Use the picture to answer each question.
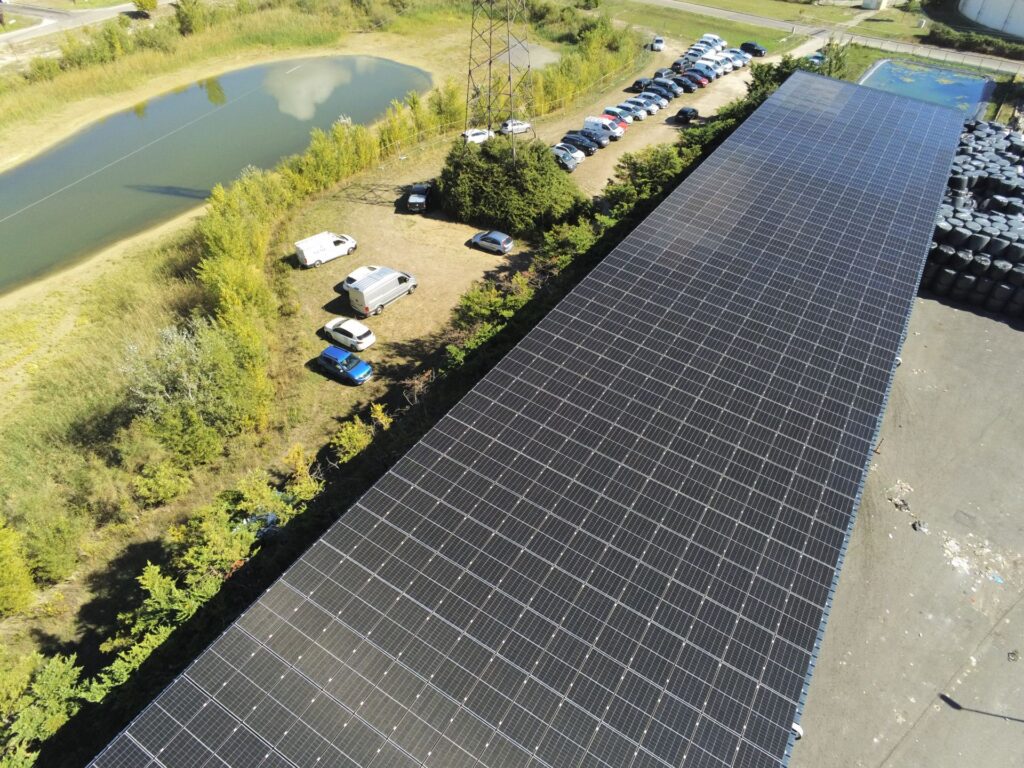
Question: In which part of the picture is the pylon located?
top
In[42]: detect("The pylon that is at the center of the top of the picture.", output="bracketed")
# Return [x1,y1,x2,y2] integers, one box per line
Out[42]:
[465,0,535,235]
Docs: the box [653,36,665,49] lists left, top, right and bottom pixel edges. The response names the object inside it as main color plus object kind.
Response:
white vehicle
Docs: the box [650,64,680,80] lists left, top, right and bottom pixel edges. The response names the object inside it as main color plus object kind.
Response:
gray vehicle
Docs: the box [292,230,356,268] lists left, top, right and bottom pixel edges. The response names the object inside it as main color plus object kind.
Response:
white van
